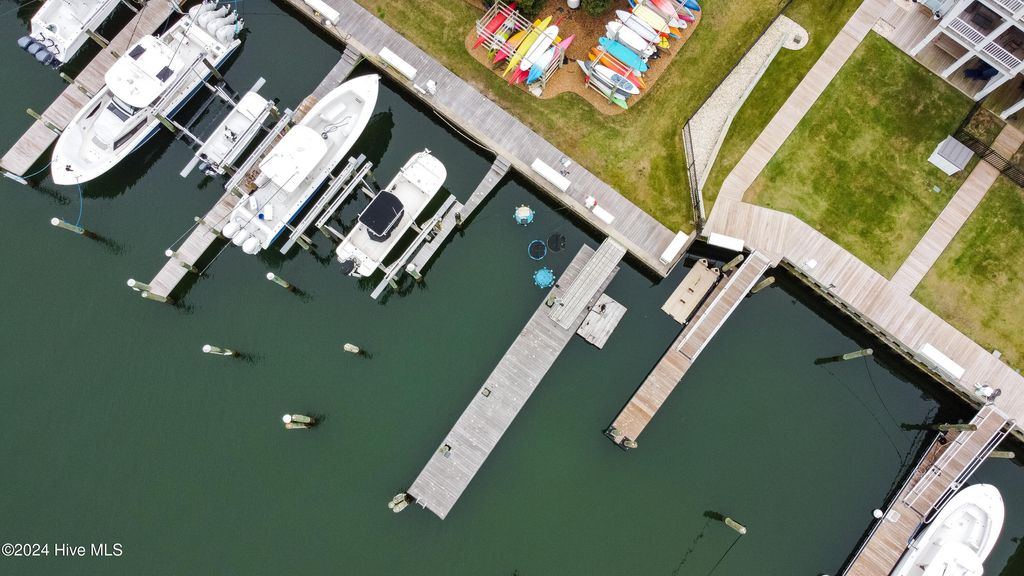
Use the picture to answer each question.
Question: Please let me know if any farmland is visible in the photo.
No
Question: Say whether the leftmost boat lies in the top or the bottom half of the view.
top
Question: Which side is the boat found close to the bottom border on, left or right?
right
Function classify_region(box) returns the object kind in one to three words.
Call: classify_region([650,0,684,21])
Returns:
boat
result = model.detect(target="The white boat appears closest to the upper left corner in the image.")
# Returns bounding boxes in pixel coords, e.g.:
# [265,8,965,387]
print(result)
[16,0,139,81]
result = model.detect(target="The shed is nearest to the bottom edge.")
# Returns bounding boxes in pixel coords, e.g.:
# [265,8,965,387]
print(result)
[928,133,979,175]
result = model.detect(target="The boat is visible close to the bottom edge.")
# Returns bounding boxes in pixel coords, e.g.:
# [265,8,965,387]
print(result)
[893,483,1003,576]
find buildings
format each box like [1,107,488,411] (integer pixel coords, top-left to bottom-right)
[873,0,1024,137]
[928,133,979,175]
